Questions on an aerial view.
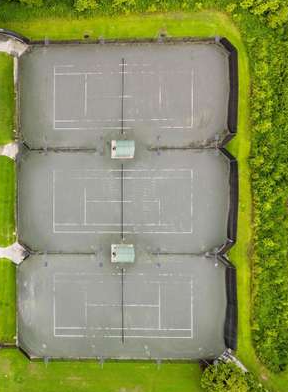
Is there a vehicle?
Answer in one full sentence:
No, no vehicle is visible in the view.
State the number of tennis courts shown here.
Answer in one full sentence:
Altogether the scene contains 3 tennis courts.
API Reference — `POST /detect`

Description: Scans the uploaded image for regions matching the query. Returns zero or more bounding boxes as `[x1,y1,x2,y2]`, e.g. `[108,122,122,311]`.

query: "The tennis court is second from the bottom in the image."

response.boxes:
[20,148,230,253]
